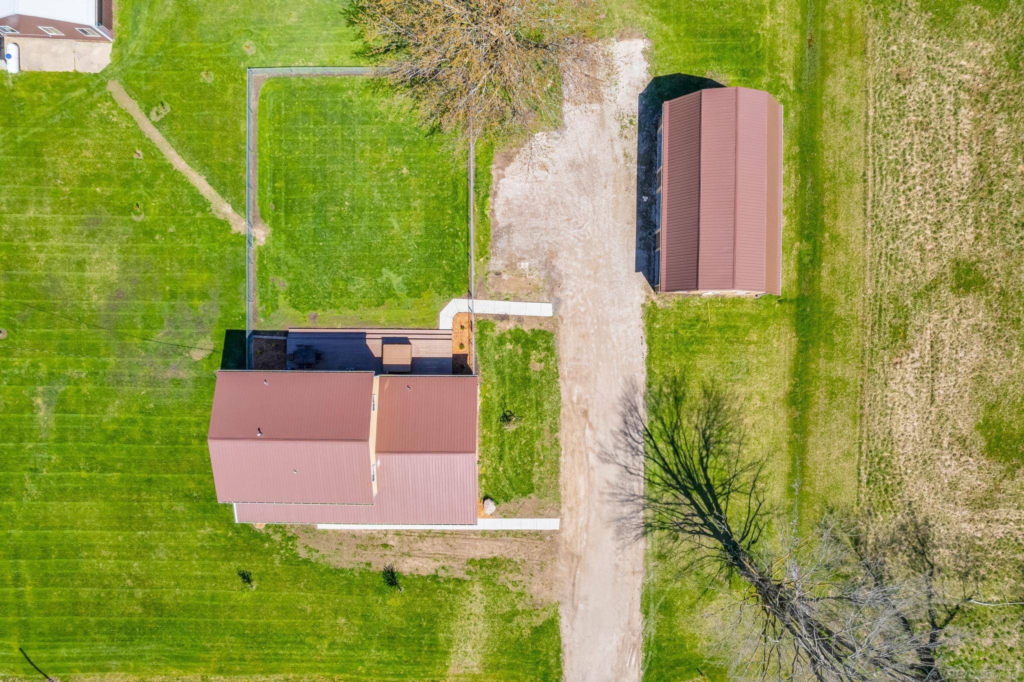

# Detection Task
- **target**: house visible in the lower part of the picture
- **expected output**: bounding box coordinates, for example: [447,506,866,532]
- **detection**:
[207,367,479,527]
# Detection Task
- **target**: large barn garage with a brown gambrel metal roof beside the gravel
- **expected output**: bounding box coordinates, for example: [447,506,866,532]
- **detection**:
[652,85,784,296]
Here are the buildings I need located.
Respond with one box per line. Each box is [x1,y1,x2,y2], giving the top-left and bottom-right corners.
[0,0,113,41]
[207,367,479,527]
[652,85,784,296]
